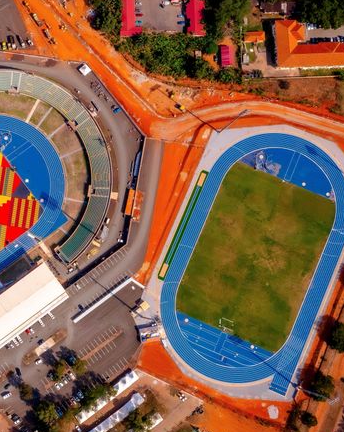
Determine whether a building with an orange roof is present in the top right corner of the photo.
Yes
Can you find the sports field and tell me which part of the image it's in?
right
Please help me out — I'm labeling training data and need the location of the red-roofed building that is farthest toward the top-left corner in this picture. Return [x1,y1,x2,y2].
[120,0,142,38]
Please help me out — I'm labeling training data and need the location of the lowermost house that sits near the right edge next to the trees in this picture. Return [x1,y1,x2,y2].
[271,20,344,69]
